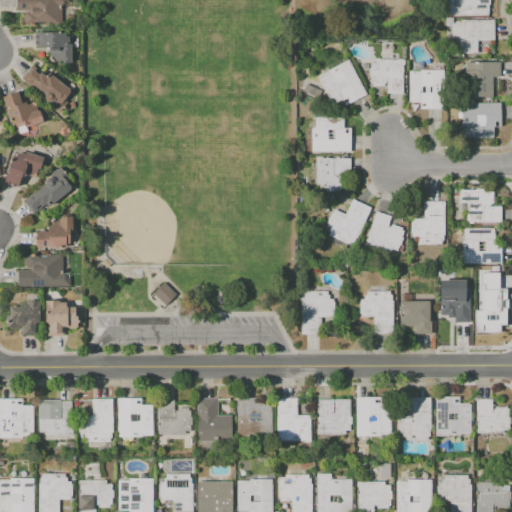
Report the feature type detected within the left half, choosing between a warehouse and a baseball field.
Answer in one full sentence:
The one visible within the left half is a baseball field.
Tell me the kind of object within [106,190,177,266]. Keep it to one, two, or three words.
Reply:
baseball field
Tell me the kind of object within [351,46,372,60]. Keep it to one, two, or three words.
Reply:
swimming pool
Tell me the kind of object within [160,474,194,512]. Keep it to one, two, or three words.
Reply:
house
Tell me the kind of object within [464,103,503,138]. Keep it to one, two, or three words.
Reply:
house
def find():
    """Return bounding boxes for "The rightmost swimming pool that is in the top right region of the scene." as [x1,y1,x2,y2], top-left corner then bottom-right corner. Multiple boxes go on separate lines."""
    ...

[411,45,432,64]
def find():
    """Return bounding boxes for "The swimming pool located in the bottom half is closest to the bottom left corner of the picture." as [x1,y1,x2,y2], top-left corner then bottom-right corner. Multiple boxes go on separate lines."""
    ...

[126,459,150,474]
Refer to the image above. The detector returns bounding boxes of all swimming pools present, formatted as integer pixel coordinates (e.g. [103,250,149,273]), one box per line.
[448,442,466,452]
[411,45,432,64]
[351,46,372,60]
[403,441,429,455]
[323,272,342,290]
[210,464,230,476]
[126,459,150,474]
